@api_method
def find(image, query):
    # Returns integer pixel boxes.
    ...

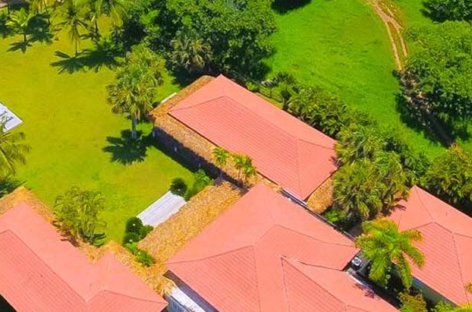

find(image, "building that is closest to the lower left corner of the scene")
[0,197,178,312]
